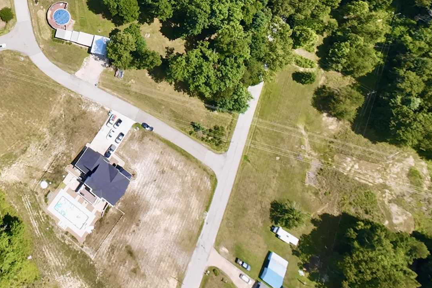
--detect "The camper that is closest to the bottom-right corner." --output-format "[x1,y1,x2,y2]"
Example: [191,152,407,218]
[273,227,301,247]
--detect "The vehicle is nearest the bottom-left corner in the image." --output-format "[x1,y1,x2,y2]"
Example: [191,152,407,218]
[104,143,117,159]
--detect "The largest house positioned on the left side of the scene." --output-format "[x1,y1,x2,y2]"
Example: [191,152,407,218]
[76,148,133,205]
